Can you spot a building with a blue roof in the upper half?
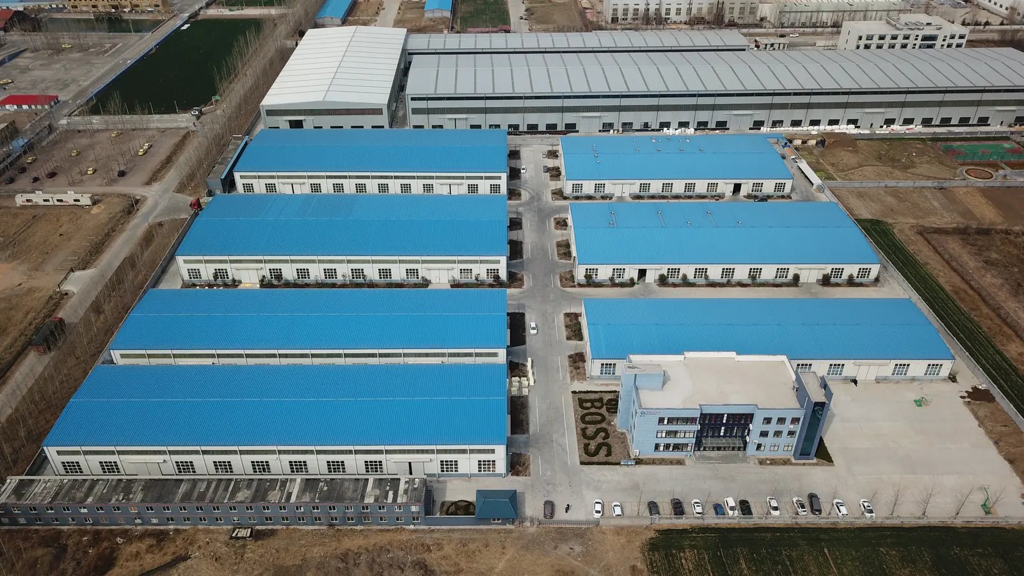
Yes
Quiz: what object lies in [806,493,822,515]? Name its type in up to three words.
car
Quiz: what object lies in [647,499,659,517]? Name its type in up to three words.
vehicle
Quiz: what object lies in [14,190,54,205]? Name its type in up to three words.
building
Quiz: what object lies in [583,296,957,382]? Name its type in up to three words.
building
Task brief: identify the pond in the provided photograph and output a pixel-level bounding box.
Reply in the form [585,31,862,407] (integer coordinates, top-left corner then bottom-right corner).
[33,17,163,33]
